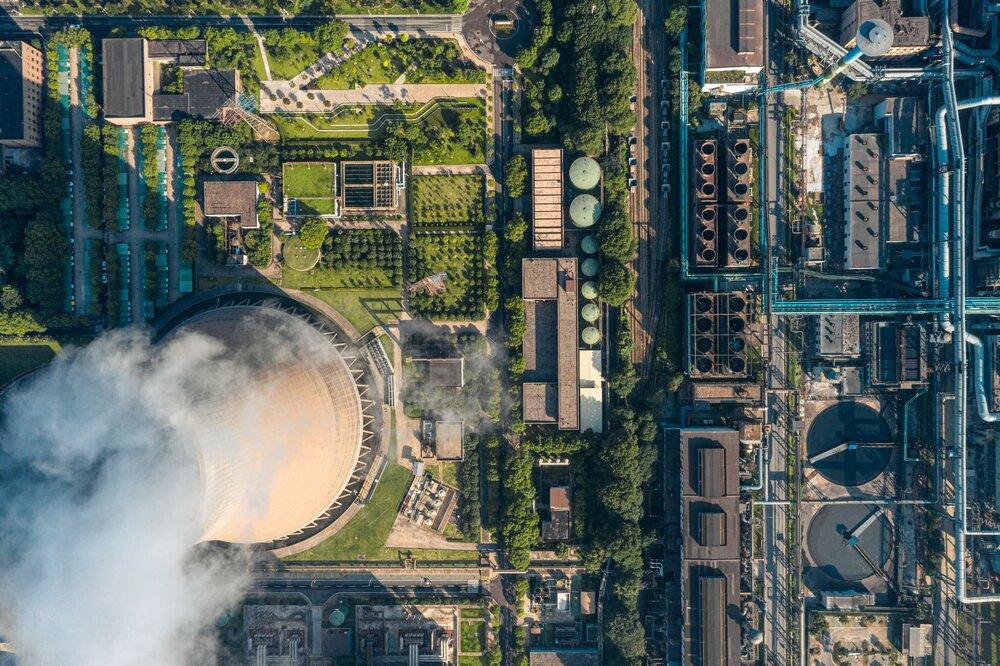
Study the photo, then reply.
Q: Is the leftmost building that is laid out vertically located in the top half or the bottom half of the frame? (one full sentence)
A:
It is in the top half that the leftmost building that is laid out vertically appears.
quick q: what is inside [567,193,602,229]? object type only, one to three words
storage tank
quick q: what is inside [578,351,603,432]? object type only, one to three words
shed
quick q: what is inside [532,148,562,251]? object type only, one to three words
building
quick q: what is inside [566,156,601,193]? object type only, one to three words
storage tank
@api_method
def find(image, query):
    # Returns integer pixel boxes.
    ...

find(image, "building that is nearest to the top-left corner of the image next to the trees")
[0,48,42,146]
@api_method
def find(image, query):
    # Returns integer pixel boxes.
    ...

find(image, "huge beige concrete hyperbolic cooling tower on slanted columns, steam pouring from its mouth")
[0,296,382,604]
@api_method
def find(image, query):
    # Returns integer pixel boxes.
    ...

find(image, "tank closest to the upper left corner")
[208,145,239,174]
